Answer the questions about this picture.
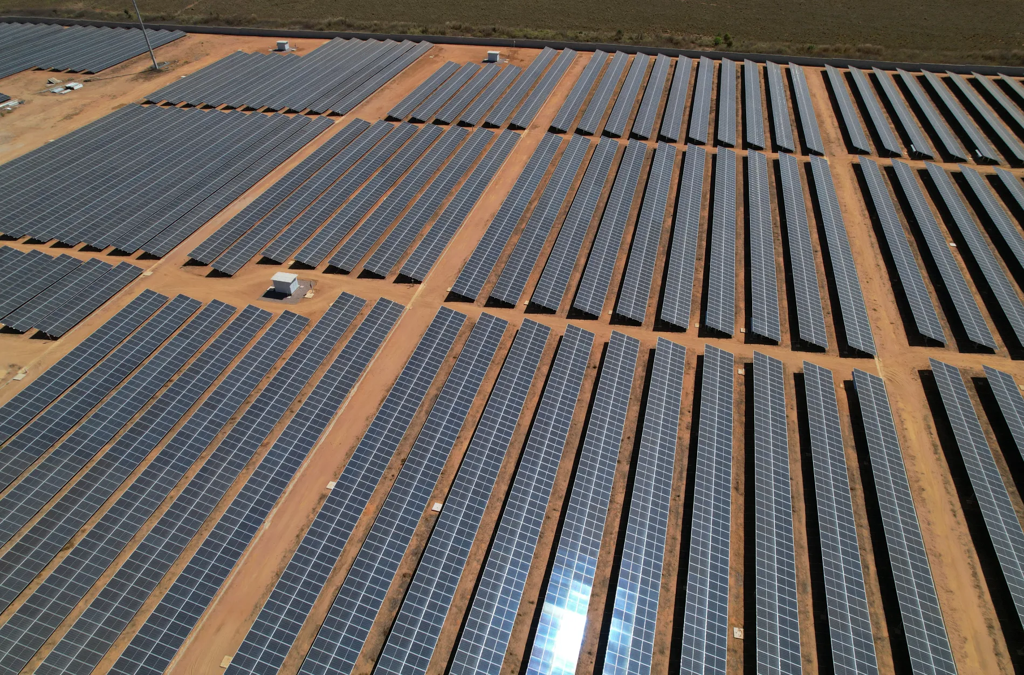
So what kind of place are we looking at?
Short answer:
solar farm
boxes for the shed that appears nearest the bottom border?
[269,271,300,296]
